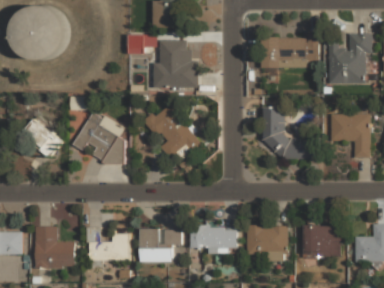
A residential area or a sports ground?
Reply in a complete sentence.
The picture captures a residential area.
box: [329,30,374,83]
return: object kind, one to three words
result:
house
